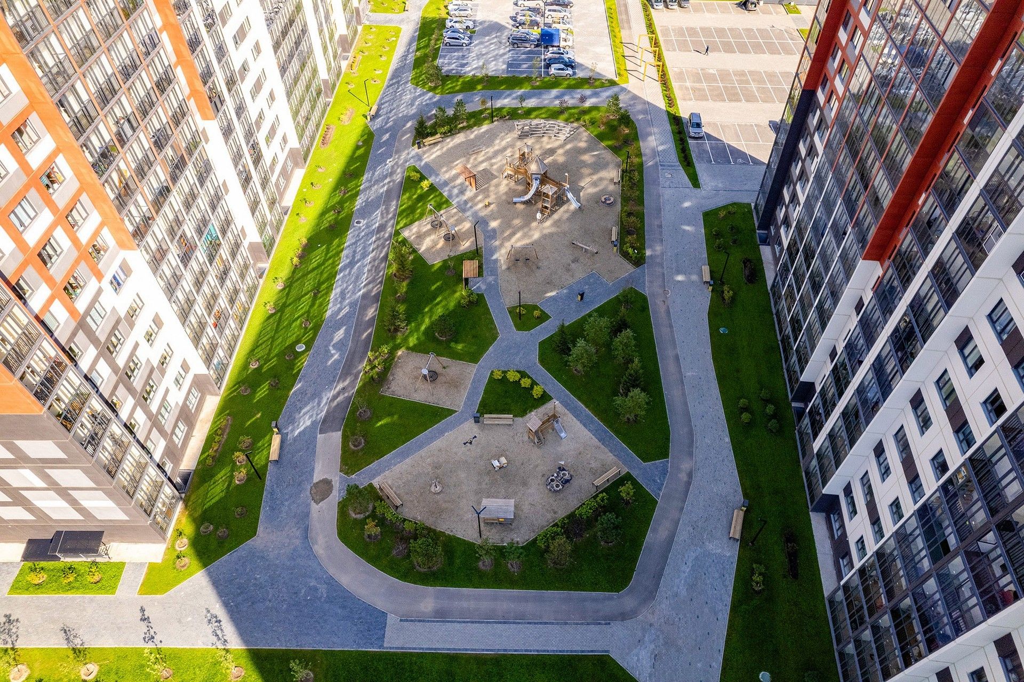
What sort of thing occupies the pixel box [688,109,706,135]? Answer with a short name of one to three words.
car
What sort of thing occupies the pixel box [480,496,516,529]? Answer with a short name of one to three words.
shed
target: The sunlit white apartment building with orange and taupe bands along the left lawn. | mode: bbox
[0,0,371,544]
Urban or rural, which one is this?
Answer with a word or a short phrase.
urban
